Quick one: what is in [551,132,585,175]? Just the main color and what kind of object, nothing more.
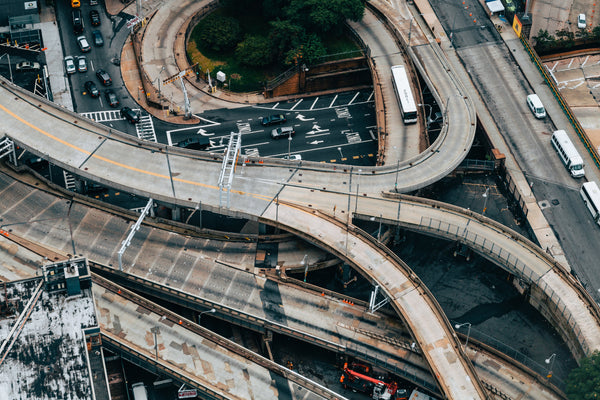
white vehicle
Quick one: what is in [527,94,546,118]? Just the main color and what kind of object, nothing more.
white vehicle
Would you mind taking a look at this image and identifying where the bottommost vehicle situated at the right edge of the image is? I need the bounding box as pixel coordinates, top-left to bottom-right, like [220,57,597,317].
[578,182,600,225]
